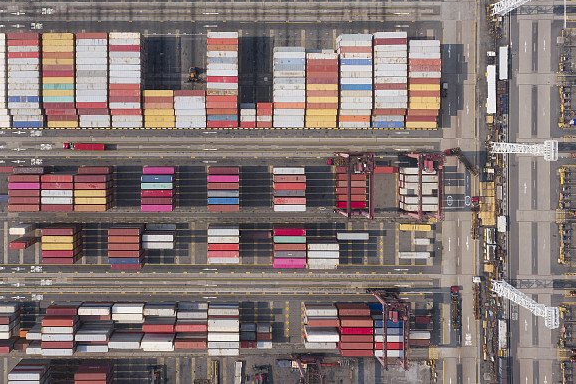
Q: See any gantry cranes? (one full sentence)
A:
Yes, the frame does contain a gantry crane.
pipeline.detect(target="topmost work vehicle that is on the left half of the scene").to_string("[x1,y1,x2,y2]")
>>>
[185,64,200,87]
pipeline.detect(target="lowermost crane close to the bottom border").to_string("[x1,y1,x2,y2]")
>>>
[289,357,325,384]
